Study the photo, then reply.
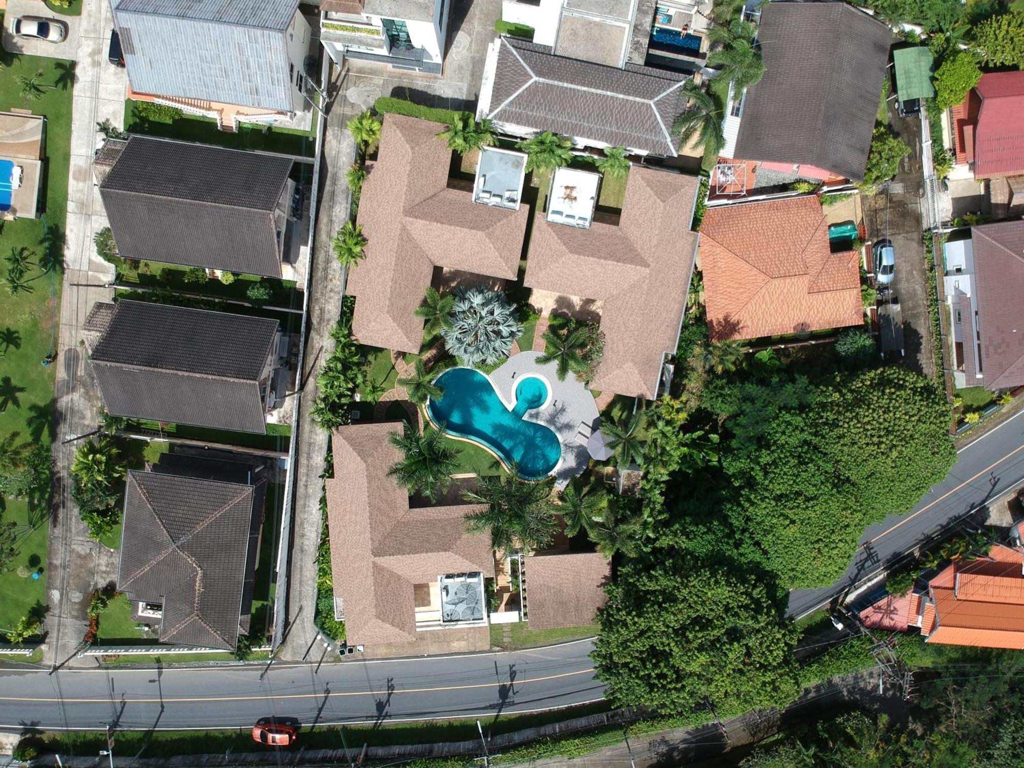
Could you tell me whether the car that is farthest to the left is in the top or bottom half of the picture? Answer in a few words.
top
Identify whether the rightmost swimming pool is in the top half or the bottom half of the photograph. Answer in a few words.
top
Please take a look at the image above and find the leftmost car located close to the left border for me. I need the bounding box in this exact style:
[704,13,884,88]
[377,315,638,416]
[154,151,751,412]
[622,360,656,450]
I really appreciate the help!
[10,17,66,45]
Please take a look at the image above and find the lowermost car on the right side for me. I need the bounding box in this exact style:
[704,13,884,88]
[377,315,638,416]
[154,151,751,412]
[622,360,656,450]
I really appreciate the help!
[824,608,846,630]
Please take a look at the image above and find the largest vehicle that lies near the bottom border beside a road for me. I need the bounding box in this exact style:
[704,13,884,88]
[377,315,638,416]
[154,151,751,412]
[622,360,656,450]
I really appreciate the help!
[254,718,297,743]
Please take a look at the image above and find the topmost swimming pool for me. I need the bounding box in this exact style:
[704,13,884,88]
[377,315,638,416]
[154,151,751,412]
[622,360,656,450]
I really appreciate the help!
[647,0,713,72]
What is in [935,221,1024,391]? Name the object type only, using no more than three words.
house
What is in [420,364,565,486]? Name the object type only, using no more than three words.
swimming pool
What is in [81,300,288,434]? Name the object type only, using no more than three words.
house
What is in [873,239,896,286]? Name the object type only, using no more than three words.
car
